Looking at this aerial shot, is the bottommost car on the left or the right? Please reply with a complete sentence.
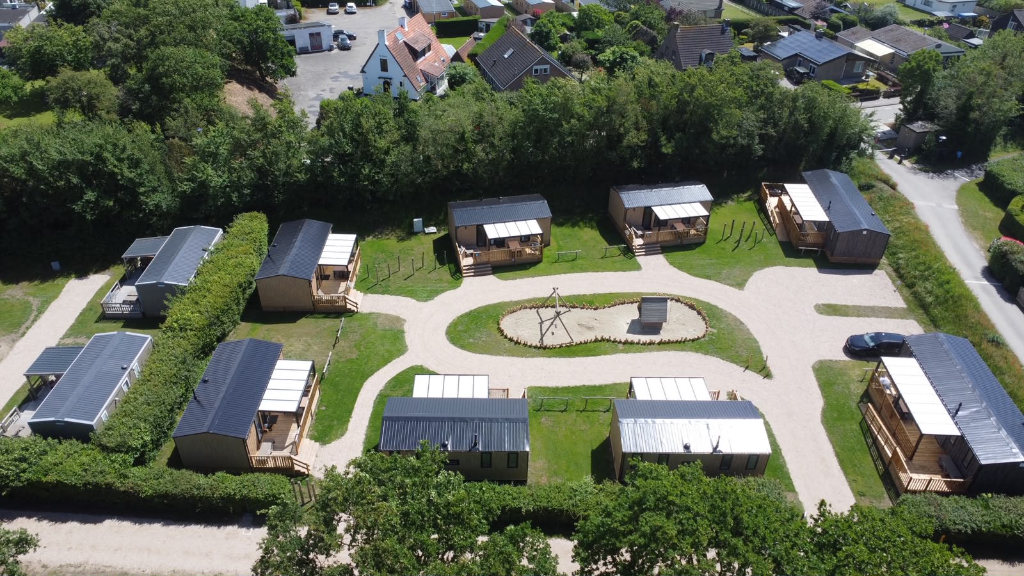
The bottommost car sits on the right side.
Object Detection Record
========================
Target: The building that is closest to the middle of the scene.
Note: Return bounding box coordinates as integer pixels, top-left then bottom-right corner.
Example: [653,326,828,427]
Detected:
[448,191,553,276]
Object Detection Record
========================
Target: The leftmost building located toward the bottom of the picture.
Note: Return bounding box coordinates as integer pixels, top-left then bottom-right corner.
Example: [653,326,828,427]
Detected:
[0,330,159,456]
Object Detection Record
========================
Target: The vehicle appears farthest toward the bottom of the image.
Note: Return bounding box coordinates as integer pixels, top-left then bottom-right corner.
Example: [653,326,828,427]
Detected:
[842,327,909,357]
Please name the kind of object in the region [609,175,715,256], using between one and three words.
building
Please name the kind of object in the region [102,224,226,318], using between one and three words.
house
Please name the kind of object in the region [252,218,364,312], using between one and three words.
building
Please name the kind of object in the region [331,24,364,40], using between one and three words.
car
